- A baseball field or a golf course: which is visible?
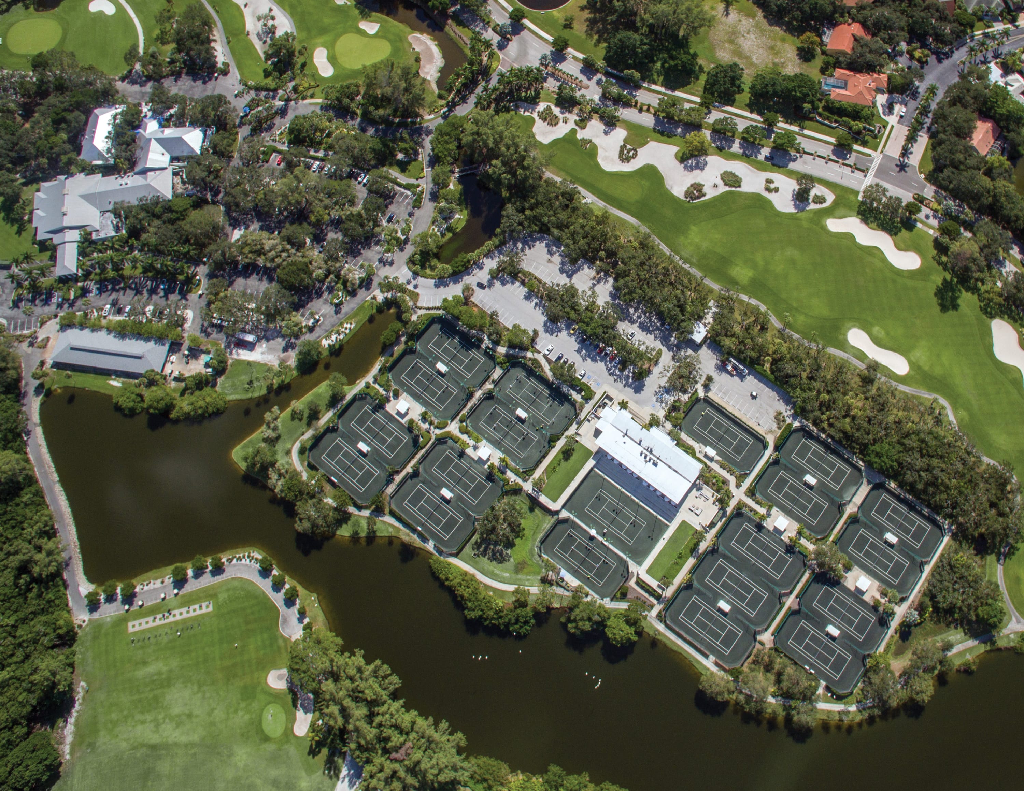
golf course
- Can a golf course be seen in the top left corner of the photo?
Yes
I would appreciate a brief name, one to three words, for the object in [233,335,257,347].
vehicle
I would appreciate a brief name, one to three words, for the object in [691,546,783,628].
tennis court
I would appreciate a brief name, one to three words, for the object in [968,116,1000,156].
house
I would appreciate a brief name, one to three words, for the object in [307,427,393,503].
tennis court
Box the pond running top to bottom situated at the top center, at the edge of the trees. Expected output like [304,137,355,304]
[439,146,503,263]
